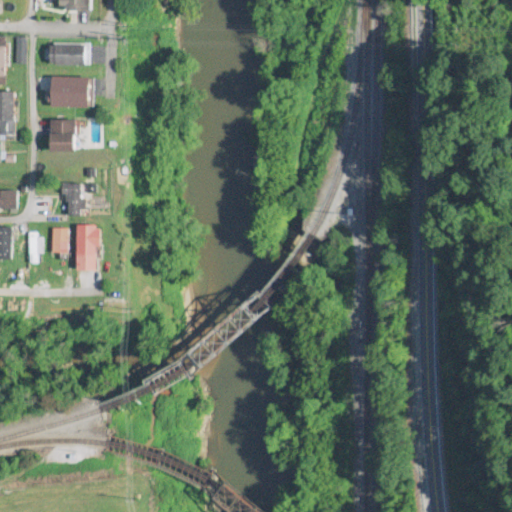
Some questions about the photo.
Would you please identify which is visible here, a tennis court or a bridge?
bridge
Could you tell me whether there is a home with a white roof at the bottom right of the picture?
No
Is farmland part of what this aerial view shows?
No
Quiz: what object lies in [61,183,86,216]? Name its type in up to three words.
house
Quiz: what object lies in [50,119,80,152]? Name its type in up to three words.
house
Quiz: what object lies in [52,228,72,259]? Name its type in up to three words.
building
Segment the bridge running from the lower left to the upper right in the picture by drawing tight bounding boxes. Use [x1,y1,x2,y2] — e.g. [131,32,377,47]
[94,230,321,420]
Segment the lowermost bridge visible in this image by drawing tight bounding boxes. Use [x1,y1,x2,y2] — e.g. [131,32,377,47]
[102,434,268,512]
